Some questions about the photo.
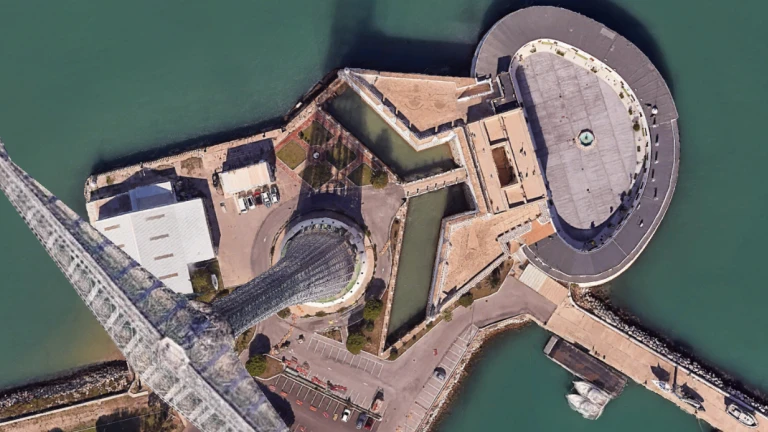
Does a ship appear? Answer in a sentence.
Yes, the picture does show a ship.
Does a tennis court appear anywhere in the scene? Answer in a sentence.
No, no tennis court can be seen from above.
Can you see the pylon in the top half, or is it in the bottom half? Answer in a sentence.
The bottom half of the photo is where the pylon is.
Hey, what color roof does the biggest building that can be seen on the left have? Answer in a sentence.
The roof over the biggest building that can be seen on the left appears white.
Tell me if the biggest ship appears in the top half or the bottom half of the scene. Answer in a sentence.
It is in the bottom half that the biggest ship appears.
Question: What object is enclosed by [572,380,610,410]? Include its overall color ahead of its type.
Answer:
white boat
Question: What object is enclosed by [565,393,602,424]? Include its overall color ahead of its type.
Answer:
white boat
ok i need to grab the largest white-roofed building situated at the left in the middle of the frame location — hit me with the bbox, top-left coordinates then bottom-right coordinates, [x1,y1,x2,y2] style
[93,196,222,296]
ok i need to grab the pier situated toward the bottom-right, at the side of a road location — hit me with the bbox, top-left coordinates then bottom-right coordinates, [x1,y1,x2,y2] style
[544,284,768,432]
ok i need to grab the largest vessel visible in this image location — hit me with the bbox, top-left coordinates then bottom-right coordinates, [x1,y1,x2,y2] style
[542,334,625,396]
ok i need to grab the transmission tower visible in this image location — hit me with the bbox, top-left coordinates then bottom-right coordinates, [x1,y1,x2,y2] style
[0,138,365,432]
